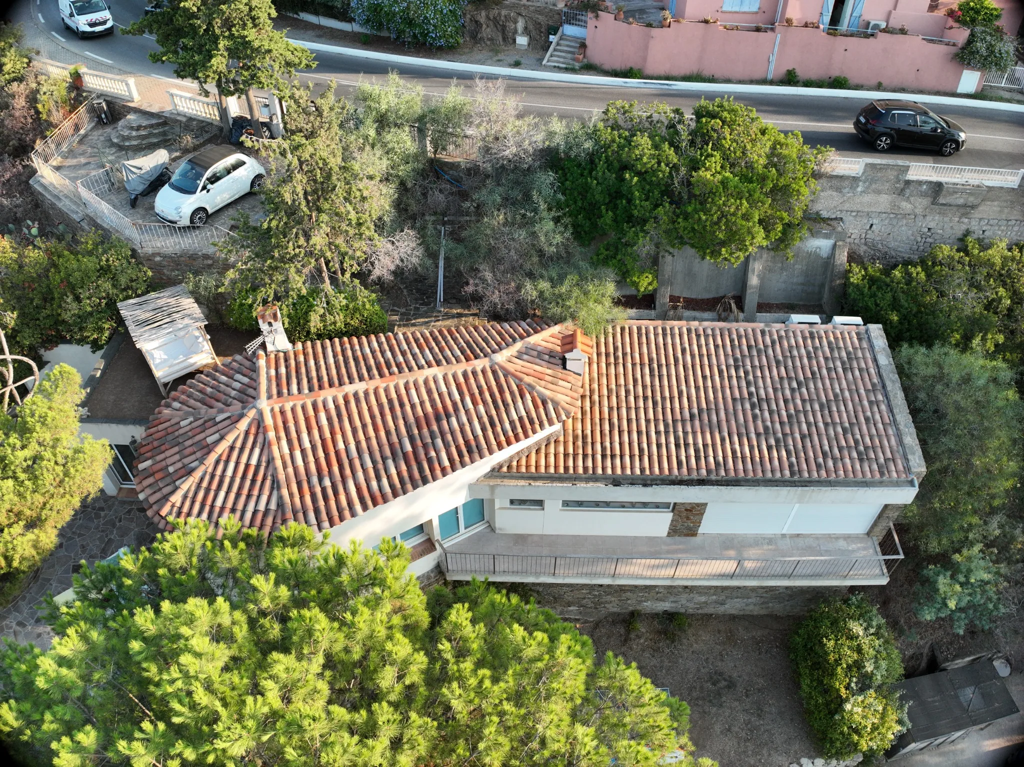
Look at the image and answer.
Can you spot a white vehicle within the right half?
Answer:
No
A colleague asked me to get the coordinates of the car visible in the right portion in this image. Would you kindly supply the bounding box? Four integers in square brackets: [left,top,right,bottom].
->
[856,94,976,157]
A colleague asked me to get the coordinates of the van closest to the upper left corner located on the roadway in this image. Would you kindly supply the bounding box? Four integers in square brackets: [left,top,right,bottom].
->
[62,0,120,38]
